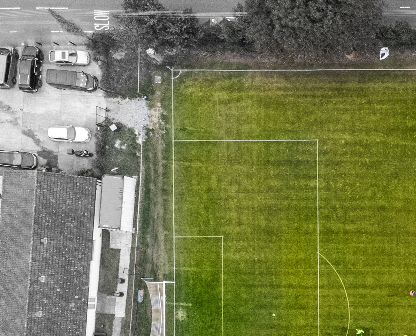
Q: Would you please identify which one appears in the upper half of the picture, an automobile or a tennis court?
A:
automobile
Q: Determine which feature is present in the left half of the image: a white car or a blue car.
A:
white car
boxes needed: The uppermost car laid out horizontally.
[49,46,91,65]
